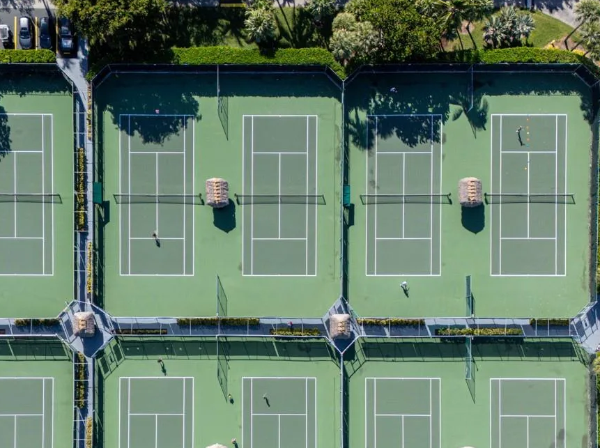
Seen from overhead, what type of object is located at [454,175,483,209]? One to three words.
shed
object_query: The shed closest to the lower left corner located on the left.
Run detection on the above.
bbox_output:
[72,310,97,339]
